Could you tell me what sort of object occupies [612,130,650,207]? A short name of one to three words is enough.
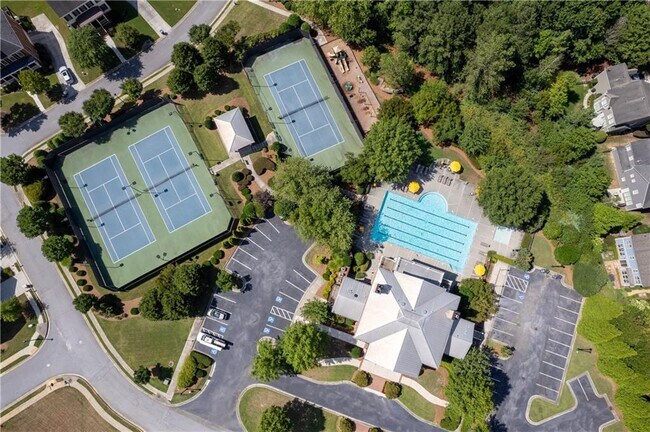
house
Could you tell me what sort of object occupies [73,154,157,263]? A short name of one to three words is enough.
tennis court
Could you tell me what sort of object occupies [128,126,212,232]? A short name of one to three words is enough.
tennis court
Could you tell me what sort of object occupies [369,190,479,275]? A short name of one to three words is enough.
swimming pool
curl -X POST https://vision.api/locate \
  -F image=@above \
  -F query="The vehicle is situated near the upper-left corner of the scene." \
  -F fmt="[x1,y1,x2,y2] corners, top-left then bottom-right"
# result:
[58,66,72,84]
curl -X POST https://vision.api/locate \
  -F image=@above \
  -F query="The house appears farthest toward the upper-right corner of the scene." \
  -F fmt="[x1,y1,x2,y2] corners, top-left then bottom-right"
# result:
[588,63,650,132]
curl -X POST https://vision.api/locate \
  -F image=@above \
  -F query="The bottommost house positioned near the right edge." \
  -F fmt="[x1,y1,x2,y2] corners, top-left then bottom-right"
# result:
[615,232,650,289]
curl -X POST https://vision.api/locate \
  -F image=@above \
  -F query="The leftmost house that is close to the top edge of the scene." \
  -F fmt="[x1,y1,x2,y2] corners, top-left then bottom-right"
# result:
[0,10,44,99]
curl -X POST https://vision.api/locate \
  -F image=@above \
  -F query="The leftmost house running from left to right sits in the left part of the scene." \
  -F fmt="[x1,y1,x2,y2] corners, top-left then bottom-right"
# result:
[46,0,112,32]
